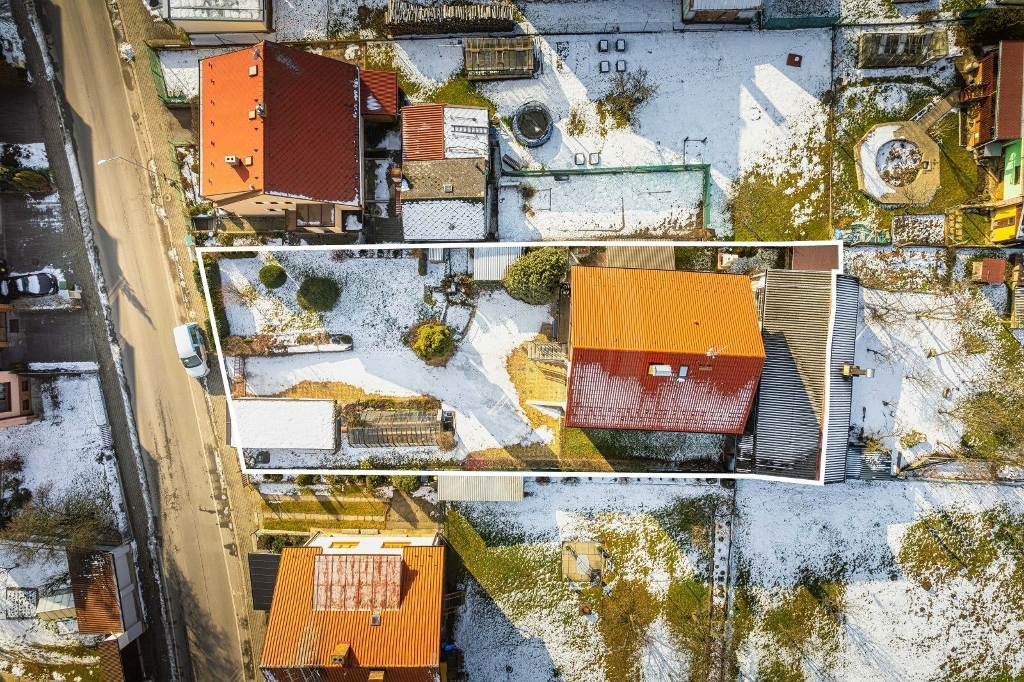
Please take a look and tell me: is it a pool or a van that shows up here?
van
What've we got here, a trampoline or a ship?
trampoline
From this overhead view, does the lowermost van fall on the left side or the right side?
left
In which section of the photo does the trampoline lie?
top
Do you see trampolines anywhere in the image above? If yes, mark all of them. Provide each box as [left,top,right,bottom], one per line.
[514,96,558,147]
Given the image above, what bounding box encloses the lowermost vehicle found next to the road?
[170,321,213,380]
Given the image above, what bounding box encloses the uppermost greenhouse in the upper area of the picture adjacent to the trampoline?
[465,38,533,84]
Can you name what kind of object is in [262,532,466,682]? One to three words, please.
house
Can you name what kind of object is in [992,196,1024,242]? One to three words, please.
house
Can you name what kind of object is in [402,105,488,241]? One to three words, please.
shed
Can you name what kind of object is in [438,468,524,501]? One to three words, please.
shed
